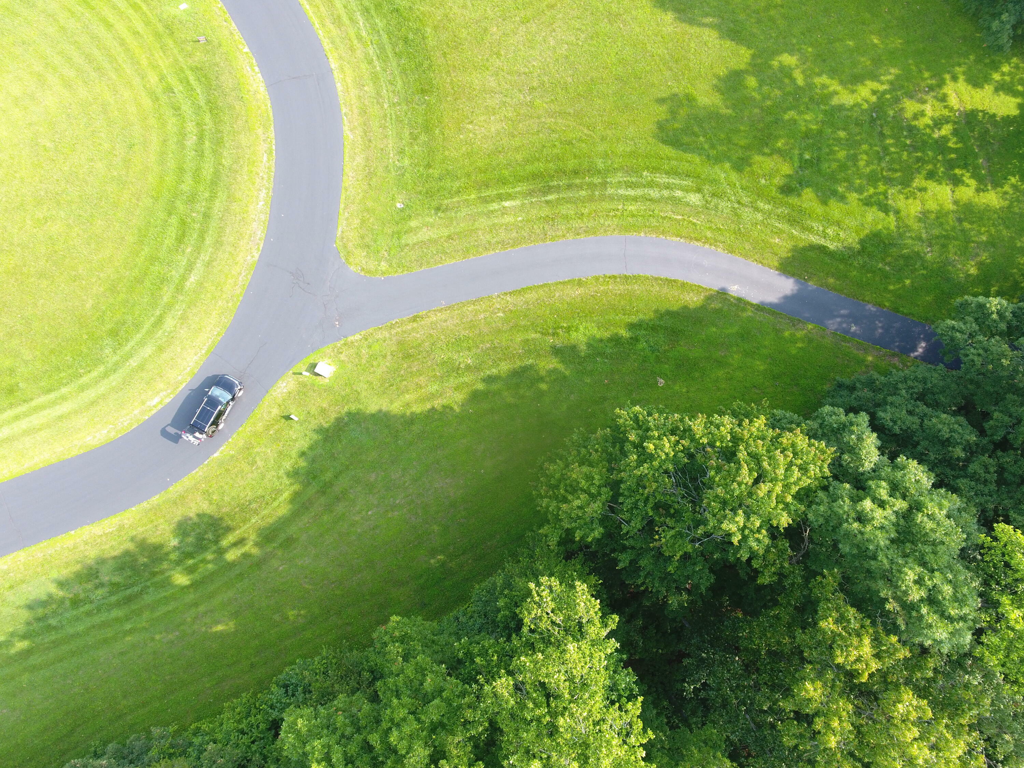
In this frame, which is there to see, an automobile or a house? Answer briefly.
automobile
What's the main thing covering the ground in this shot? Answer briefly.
grass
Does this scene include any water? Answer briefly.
No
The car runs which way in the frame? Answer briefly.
on a diagonal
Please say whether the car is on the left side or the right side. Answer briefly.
left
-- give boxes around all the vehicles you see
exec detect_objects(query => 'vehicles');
[182,371,246,445]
